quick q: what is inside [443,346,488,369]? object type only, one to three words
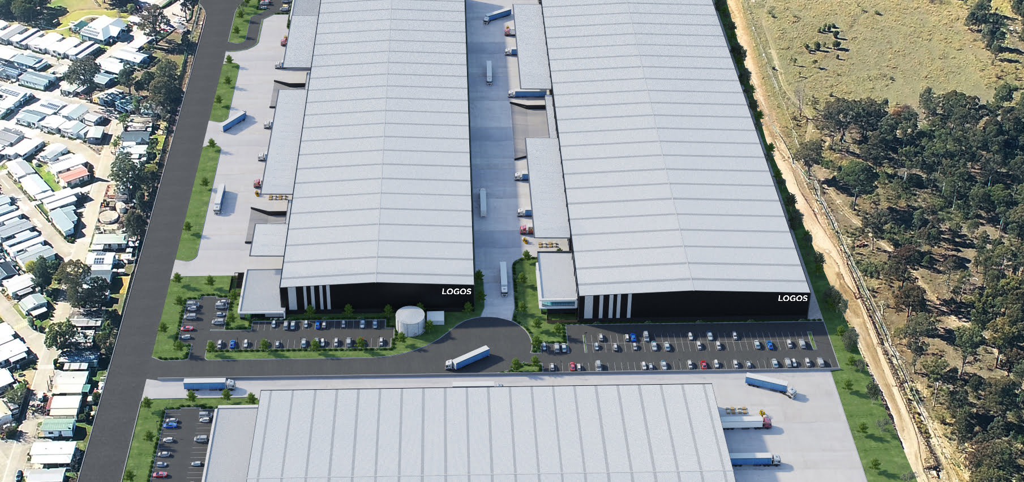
truck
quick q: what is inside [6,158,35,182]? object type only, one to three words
house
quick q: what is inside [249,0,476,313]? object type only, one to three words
warehouse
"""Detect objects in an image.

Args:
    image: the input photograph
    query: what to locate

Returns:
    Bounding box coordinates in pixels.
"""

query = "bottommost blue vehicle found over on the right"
[731,453,782,467]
